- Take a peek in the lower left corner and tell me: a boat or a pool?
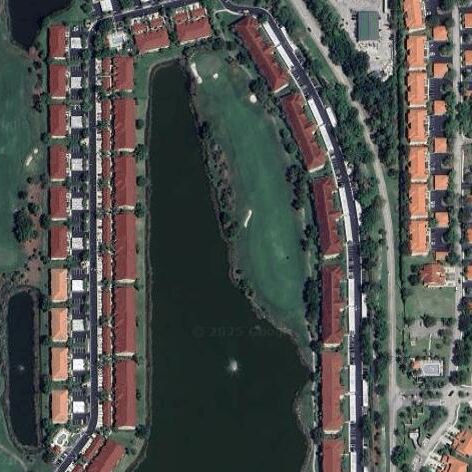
pool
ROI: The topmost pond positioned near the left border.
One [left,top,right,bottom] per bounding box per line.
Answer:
[8,0,70,49]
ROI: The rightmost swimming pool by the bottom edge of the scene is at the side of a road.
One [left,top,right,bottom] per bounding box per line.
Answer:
[51,427,73,450]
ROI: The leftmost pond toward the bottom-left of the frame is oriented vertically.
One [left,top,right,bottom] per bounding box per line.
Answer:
[8,294,39,448]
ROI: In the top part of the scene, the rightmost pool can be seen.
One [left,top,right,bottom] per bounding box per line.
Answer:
[109,32,128,49]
